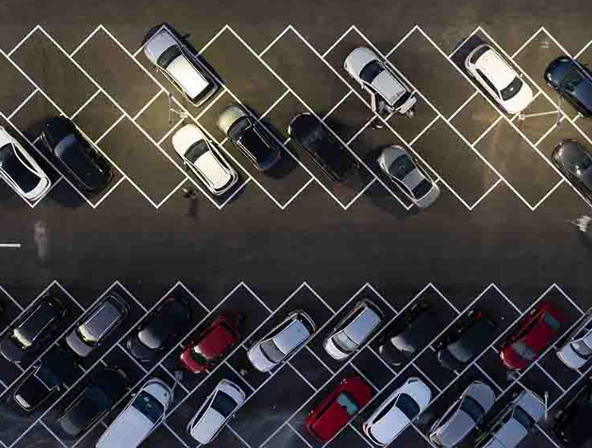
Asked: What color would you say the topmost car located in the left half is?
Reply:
white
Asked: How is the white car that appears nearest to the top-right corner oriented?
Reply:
on a diagonal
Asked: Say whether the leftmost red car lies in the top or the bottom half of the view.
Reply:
bottom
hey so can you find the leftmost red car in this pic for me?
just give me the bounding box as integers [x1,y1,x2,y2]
[181,307,244,372]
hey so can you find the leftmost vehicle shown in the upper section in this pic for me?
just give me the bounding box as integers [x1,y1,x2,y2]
[0,125,54,203]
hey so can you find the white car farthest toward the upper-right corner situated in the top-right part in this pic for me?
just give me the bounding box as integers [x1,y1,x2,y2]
[464,42,531,114]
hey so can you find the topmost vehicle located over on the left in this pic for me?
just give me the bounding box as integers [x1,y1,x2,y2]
[146,32,218,108]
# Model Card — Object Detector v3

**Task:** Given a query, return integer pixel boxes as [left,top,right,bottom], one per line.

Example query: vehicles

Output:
[67,289,134,359]
[498,299,570,371]
[379,143,444,211]
[187,378,247,448]
[38,114,115,199]
[436,305,500,372]
[174,124,238,196]
[357,375,432,448]
[464,42,531,114]
[146,32,218,108]
[305,375,374,447]
[321,297,385,362]
[290,113,361,188]
[550,137,592,206]
[127,292,195,364]
[378,297,442,364]
[544,56,592,120]
[475,388,547,448]
[181,307,244,372]
[89,379,176,448]
[55,365,129,442]
[247,305,317,372]
[9,345,81,418]
[550,375,592,448]
[220,104,284,175]
[0,125,54,203]
[425,379,497,448]
[343,45,417,117]
[0,291,72,365]
[556,306,592,369]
